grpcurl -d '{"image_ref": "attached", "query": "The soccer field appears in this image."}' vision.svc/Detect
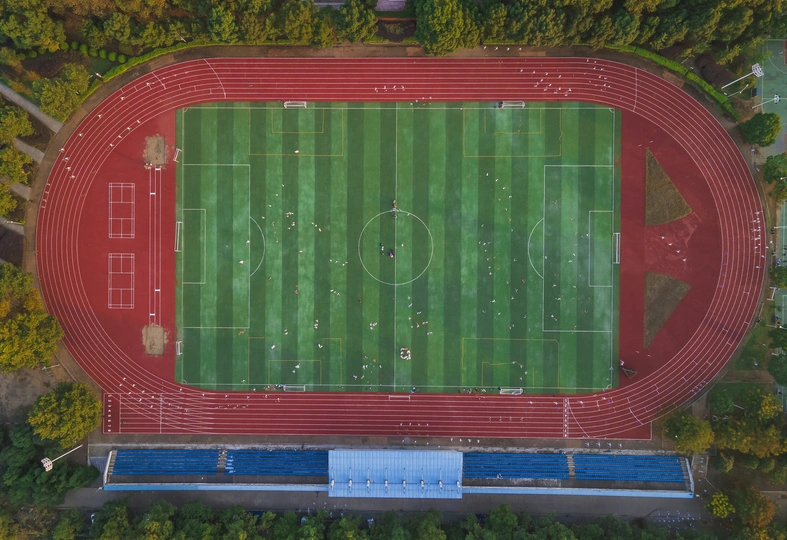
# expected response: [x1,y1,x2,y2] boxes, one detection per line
[174,102,622,394]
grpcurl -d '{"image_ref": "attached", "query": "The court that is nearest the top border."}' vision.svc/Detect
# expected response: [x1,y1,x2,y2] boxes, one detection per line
[756,38,787,148]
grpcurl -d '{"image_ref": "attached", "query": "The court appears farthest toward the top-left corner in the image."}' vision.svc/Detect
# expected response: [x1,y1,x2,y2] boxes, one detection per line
[108,182,134,239]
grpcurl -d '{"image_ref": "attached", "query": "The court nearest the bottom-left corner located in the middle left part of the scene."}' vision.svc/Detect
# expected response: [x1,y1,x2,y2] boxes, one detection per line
[108,253,134,310]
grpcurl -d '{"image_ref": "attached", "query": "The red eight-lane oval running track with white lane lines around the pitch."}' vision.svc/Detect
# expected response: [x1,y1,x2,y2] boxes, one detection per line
[35,57,767,439]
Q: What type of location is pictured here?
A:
sports ground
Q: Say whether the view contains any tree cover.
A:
Yes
